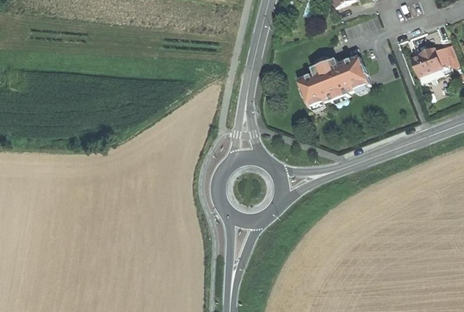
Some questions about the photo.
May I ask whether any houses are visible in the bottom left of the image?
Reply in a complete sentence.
No, there is no house in the bottom left of the image.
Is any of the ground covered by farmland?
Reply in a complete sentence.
Yes, some farmland is visible.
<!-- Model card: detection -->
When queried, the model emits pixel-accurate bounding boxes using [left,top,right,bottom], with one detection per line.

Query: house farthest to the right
[411,34,461,85]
